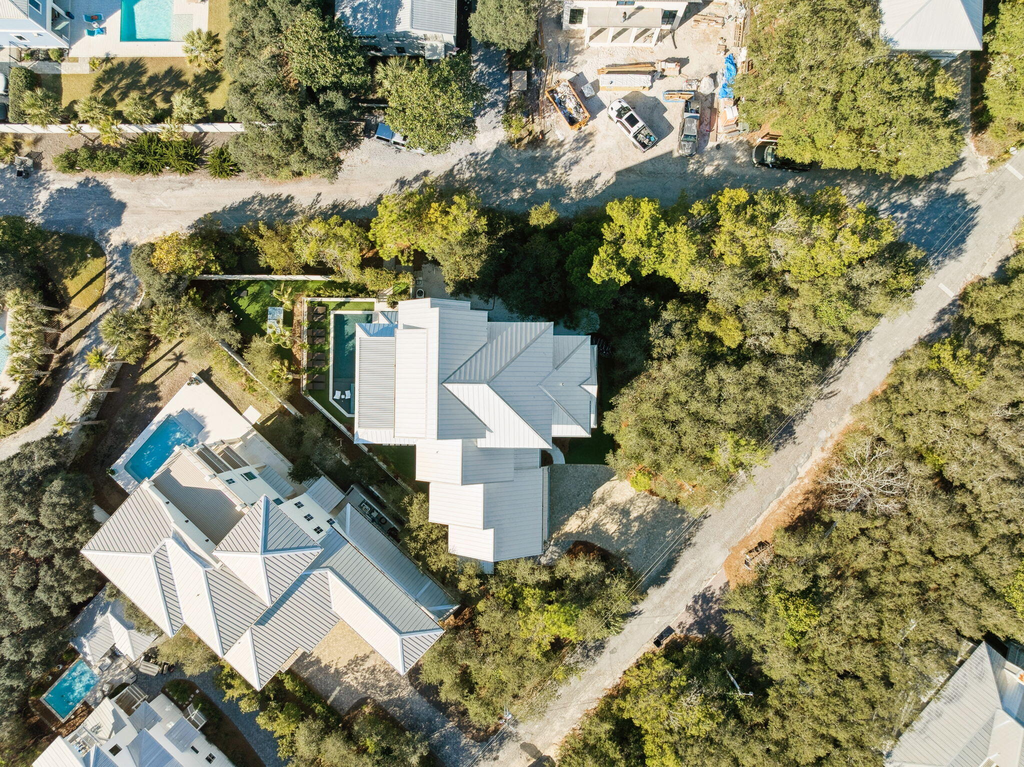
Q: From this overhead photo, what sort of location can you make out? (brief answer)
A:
residential area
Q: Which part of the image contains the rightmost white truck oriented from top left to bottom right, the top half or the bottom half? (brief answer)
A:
top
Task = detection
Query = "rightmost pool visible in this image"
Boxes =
[332,314,373,414]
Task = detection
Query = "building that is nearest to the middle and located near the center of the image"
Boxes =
[350,298,611,574]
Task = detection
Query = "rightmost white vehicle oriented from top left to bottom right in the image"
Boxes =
[602,93,663,160]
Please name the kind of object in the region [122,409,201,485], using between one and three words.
swimming pool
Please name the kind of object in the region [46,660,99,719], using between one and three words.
swimming pool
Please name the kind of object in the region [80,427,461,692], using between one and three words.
house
